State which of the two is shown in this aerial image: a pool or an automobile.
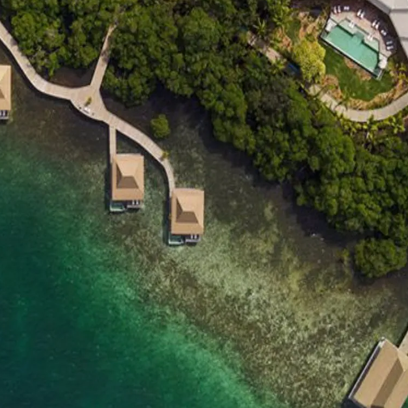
pool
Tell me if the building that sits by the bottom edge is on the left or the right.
right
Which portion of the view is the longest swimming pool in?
top right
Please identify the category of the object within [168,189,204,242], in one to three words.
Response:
house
